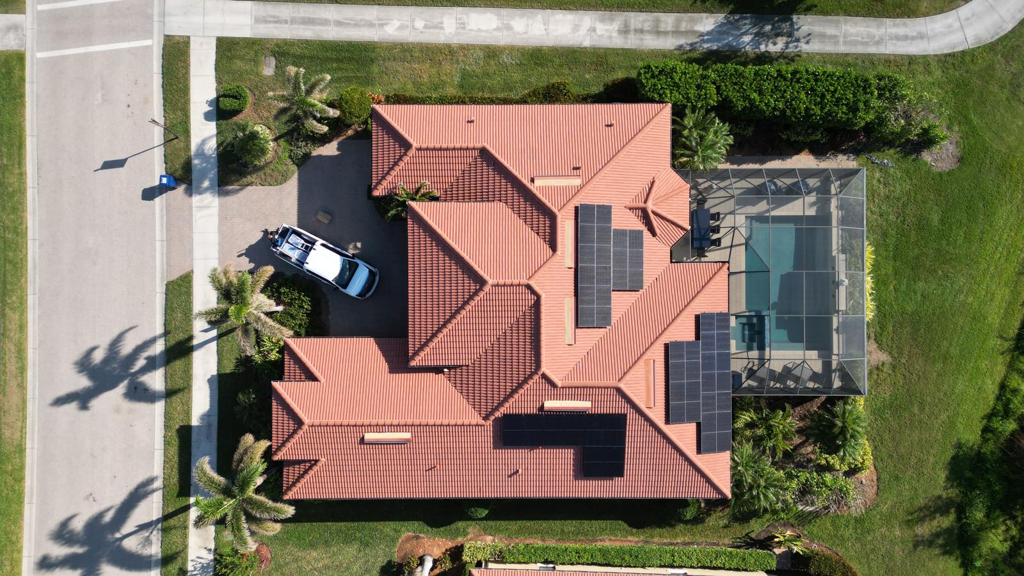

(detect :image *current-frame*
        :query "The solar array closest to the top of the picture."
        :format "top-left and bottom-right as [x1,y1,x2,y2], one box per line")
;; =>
[580,199,647,331]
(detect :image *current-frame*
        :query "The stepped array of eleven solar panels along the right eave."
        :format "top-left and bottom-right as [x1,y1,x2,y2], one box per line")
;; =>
[671,309,734,458]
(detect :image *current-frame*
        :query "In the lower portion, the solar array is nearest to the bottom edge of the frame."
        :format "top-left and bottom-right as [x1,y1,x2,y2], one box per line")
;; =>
[498,416,631,480]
